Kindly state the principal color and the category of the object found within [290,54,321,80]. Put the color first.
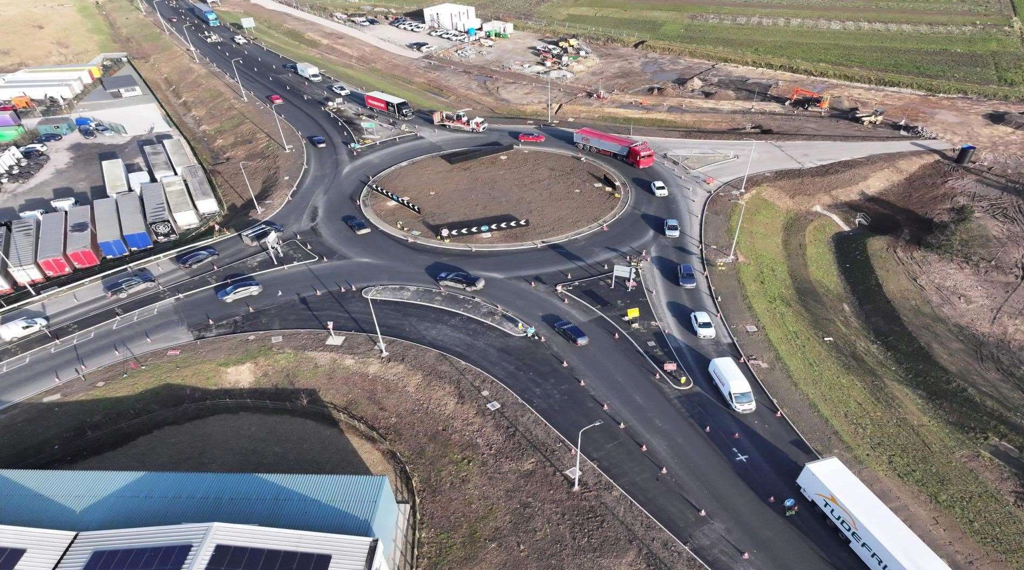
white vehicle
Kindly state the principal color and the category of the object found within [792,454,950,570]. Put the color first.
white trailer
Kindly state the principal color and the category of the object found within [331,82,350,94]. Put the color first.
white vehicle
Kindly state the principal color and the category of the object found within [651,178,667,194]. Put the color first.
white car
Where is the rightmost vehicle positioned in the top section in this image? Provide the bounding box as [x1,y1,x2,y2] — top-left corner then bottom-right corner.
[856,108,884,124]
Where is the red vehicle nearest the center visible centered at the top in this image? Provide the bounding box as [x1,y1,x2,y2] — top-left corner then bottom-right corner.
[518,130,545,143]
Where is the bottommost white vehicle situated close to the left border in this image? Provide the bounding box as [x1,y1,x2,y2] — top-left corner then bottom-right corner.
[0,314,46,344]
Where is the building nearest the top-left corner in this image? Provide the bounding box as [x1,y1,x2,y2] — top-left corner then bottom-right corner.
[100,72,145,104]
